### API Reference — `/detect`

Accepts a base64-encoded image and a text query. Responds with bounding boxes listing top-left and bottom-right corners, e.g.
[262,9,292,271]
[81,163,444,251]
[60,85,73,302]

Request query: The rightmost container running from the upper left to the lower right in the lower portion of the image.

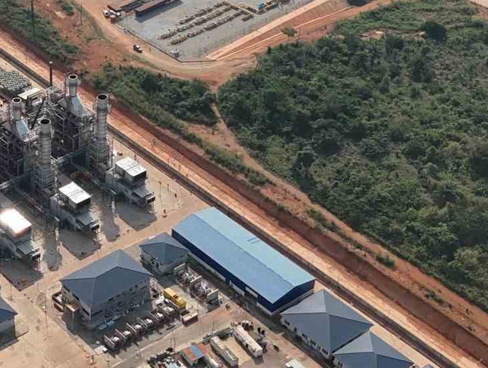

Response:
[160,284,190,313]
